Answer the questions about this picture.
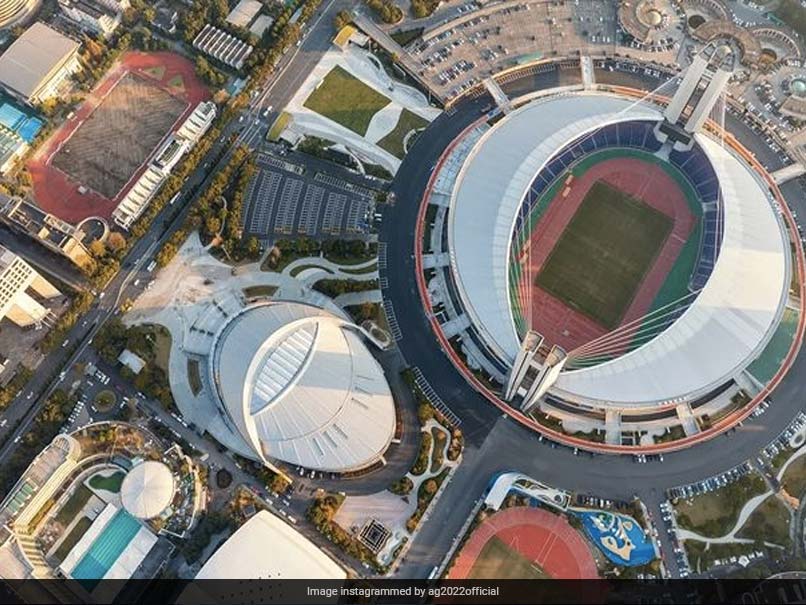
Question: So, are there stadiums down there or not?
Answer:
Yes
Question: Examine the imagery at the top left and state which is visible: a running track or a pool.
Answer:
running track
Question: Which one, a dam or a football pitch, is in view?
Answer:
football pitch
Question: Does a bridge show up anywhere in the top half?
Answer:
Yes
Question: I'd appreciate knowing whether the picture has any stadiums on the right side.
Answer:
Yes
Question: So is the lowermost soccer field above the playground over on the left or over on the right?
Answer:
right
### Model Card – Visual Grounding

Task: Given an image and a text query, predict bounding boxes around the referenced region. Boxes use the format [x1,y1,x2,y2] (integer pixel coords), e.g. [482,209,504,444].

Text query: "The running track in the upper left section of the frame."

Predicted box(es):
[28,50,211,223]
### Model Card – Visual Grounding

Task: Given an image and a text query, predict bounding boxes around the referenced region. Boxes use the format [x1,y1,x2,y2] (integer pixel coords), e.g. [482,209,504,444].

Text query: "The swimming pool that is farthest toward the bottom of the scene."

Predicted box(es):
[62,503,157,599]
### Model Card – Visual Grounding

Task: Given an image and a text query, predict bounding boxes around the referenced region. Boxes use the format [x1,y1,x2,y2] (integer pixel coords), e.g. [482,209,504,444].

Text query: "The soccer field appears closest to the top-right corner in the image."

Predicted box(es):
[532,182,675,333]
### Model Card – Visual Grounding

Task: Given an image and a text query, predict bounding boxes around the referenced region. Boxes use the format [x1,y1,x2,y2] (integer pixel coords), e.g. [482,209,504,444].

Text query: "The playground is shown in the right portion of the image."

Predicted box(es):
[567,507,657,567]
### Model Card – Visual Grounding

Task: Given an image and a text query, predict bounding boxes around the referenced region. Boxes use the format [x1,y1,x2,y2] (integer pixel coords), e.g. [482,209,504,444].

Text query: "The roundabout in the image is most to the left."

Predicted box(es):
[79,378,128,425]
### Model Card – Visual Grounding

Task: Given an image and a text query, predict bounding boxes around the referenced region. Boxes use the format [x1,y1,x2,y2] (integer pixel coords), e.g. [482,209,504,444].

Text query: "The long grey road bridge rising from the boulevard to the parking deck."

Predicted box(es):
[350,5,449,106]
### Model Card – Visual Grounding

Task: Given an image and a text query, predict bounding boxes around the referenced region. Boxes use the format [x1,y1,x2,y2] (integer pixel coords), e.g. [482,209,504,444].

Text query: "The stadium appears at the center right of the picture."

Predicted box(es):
[411,42,806,451]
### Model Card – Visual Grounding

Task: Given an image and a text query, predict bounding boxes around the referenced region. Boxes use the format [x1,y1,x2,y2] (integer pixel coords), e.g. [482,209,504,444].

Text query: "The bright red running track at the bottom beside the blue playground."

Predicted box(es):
[426,511,602,605]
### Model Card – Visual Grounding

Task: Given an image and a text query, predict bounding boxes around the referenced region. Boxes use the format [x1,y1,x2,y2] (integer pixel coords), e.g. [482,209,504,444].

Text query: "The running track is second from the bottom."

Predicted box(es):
[510,154,698,365]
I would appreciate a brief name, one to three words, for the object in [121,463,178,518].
building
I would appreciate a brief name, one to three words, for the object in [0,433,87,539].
building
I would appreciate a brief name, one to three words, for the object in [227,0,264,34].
shed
